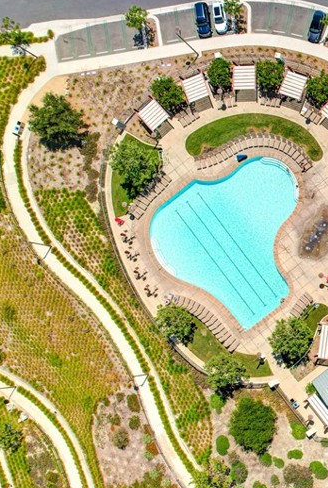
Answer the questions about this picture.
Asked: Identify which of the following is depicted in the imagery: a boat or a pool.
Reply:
pool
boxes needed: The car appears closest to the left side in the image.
[193,2,215,39]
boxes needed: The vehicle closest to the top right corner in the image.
[307,10,325,43]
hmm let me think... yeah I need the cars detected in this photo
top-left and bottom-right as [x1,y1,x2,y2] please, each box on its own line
[307,10,325,43]
[209,2,228,35]
[193,2,215,39]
